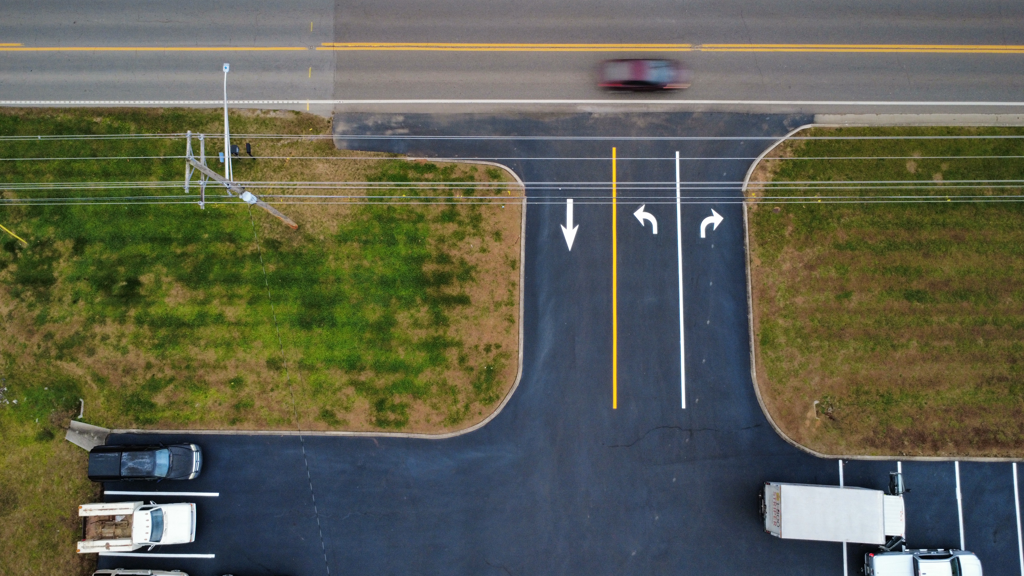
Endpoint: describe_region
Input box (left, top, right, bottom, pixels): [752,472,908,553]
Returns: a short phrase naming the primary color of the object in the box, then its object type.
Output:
white truck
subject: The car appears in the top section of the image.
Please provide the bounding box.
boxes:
[605,54,684,93]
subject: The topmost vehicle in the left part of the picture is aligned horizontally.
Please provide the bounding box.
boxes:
[88,440,205,487]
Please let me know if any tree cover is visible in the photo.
No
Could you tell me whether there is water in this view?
No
